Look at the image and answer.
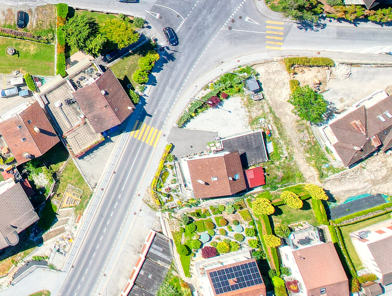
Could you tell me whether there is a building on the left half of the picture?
Yes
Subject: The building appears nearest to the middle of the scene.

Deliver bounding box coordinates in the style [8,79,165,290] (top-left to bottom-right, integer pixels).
[178,129,266,198]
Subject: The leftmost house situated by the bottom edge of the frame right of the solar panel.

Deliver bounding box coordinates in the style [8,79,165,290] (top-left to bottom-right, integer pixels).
[282,222,350,296]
